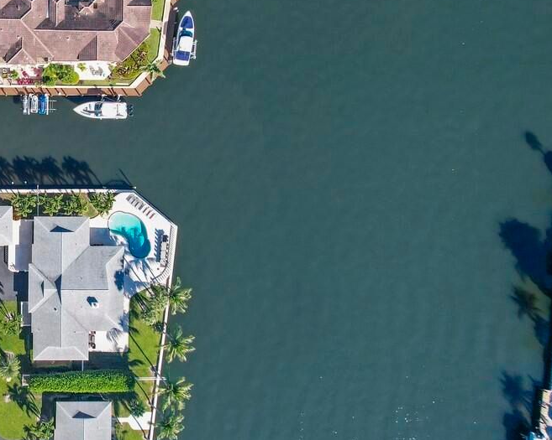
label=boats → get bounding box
[75,96,133,119]
[173,14,192,67]
[31,96,38,113]
[22,96,29,113]
[523,421,546,440]
[40,97,45,114]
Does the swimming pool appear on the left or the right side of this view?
left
